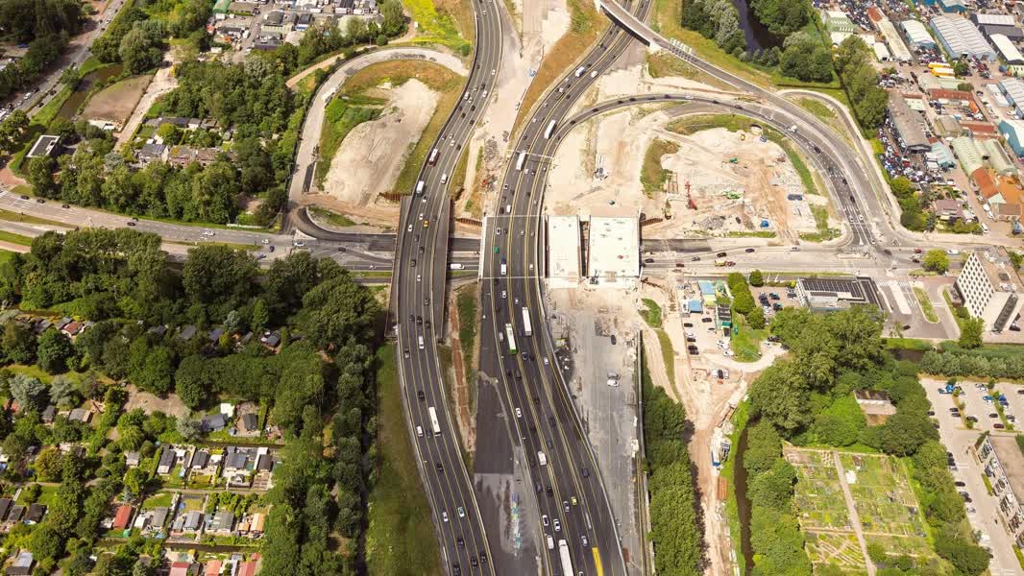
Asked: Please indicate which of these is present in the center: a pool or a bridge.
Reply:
bridge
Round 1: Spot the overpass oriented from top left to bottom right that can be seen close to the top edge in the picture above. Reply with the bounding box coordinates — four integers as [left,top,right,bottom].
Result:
[593,0,673,53]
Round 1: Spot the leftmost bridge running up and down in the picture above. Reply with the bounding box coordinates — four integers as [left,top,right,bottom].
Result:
[384,196,451,340]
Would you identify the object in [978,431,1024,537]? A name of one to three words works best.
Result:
building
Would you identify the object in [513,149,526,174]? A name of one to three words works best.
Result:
vehicle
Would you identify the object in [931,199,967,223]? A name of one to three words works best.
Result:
house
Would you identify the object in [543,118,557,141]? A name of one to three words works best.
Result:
vehicle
